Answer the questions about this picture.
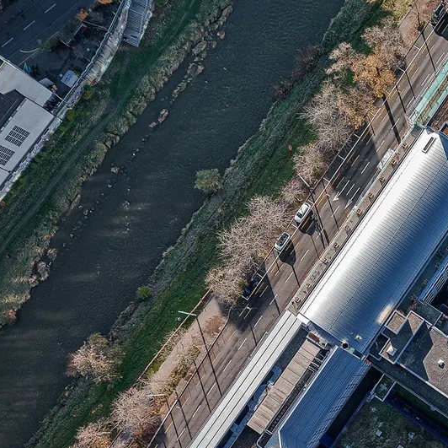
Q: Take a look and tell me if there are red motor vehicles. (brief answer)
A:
No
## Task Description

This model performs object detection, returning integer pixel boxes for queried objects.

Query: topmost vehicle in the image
[429,5,446,25]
